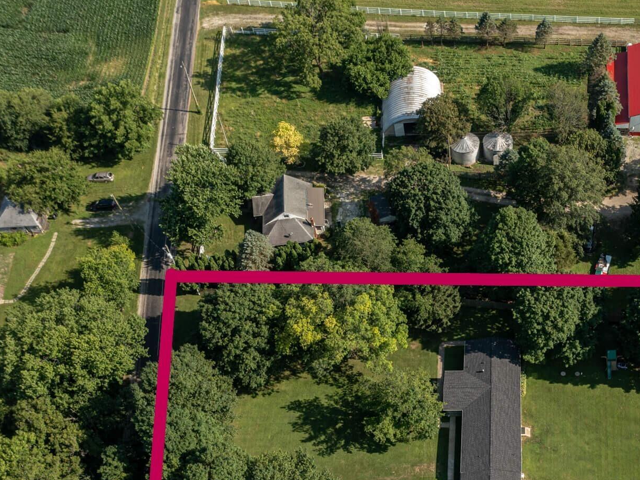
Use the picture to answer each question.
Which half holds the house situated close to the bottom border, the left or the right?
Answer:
right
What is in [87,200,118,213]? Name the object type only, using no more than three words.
vehicle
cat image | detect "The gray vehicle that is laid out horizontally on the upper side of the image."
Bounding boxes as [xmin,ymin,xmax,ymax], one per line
[85,171,115,183]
